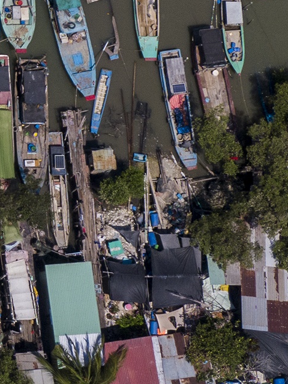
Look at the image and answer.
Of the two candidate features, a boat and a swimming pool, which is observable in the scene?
boat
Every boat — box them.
[0,55,16,181]
[131,0,160,61]
[47,132,70,247]
[217,0,246,74]
[156,49,197,170]
[43,0,96,101]
[14,59,50,191]
[0,0,36,54]
[88,68,112,132]
[187,28,236,143]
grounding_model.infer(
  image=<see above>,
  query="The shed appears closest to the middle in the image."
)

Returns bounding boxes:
[86,146,116,170]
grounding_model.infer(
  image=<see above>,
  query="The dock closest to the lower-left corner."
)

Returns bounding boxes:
[70,173,102,284]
